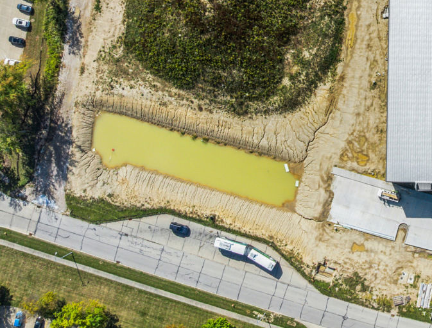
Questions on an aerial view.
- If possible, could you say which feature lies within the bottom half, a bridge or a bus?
bus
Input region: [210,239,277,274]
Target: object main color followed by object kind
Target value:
white bus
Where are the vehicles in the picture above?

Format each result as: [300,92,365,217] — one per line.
[14,310,25,327]
[379,190,400,202]
[9,36,27,45]
[5,58,22,66]
[13,18,31,28]
[18,4,34,13]
[169,224,190,234]
[210,239,277,274]
[35,317,45,328]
